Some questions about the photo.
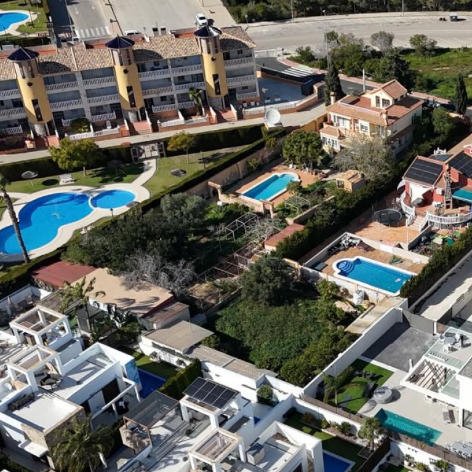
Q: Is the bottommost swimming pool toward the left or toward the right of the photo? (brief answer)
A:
right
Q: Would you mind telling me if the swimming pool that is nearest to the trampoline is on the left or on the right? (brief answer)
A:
right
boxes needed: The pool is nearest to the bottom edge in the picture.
[322,449,347,472]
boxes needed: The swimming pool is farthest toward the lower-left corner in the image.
[137,365,160,400]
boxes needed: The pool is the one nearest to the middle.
[241,171,302,201]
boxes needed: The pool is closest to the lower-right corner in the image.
[373,405,445,448]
